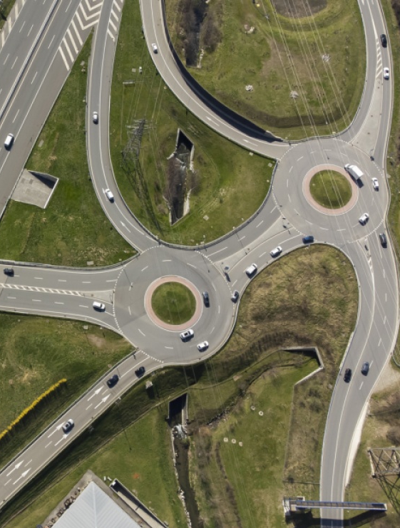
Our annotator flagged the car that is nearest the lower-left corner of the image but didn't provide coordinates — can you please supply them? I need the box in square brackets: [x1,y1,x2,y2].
[61,420,75,434]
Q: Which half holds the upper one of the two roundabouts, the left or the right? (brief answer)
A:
right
